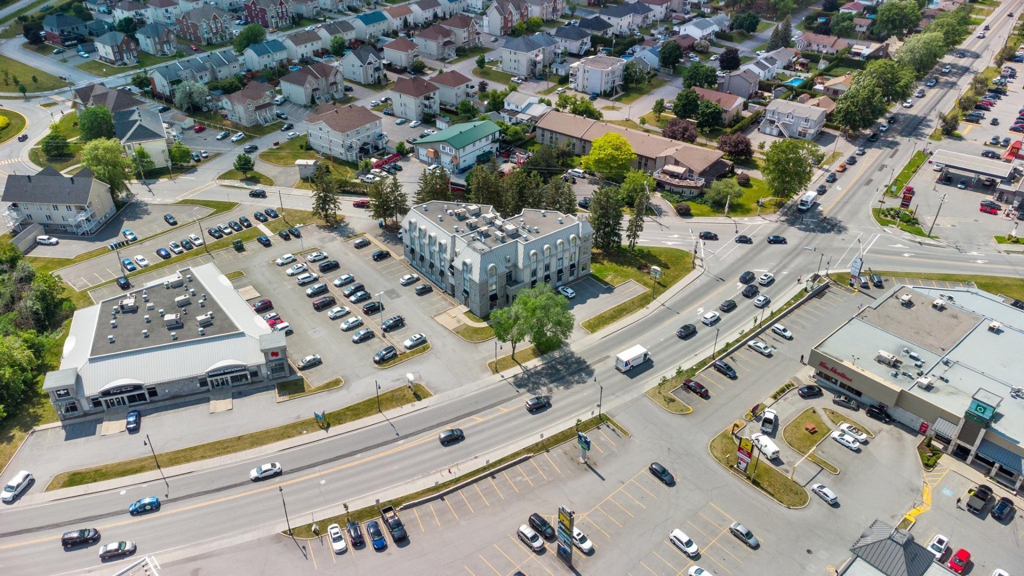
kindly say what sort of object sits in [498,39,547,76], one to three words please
house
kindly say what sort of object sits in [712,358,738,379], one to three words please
car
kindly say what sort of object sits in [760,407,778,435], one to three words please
vehicle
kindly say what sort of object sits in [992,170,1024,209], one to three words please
building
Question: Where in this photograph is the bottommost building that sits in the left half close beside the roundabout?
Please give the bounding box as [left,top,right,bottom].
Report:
[42,263,293,420]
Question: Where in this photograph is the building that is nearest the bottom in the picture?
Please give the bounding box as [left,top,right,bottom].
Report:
[829,518,938,576]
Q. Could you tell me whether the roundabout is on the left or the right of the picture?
left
